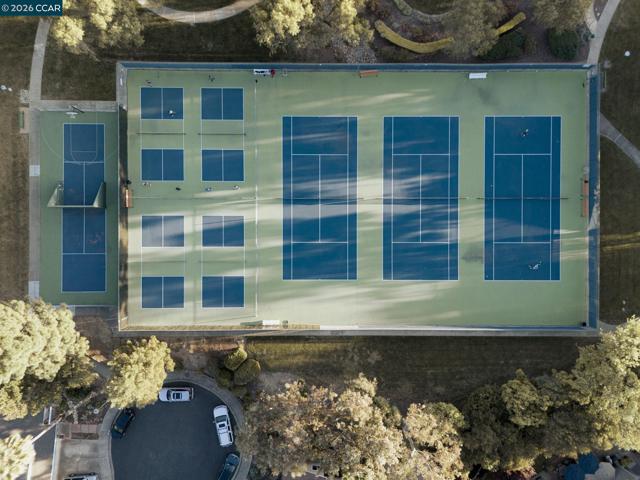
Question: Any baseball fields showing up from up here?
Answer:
No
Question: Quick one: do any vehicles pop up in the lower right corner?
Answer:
No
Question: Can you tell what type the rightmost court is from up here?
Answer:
tennis court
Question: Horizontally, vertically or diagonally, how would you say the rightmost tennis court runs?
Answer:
vertically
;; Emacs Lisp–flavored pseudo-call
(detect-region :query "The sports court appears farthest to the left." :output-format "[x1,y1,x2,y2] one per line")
[39,110,121,305]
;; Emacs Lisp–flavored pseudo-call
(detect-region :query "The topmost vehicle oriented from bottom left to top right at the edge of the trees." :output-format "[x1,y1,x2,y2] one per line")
[110,407,136,440]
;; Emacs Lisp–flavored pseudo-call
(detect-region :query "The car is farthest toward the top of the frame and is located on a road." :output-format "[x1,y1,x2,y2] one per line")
[159,388,195,404]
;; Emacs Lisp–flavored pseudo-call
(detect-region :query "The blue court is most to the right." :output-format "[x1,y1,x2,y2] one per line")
[486,117,560,279]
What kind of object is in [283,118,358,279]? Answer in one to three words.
tennis court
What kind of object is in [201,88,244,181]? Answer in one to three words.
sports court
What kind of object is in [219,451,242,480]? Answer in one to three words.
car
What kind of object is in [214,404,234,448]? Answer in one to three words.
vehicle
